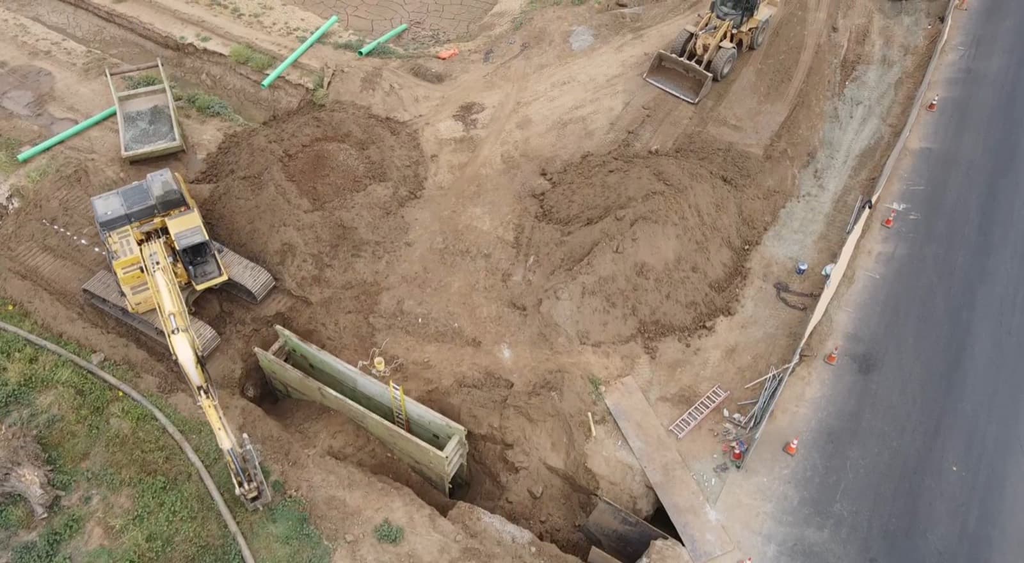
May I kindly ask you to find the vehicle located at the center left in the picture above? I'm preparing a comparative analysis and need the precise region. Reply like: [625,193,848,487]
[77,170,280,508]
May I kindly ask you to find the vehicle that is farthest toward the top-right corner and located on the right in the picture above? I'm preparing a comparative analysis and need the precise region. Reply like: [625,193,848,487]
[643,0,789,105]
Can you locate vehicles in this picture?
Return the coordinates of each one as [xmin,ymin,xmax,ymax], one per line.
[643,0,789,105]
[77,170,280,508]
